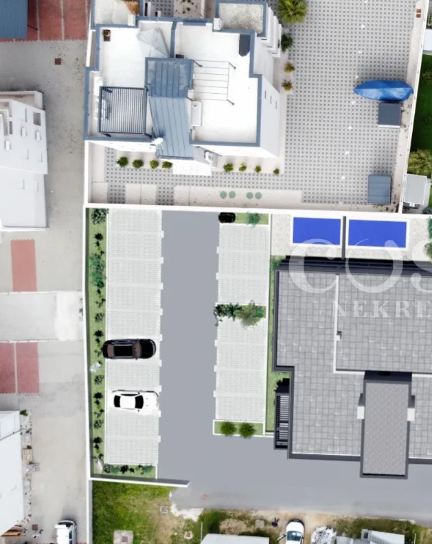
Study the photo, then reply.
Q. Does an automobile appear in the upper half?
No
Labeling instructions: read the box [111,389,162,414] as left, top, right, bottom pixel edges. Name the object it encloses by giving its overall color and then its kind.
white car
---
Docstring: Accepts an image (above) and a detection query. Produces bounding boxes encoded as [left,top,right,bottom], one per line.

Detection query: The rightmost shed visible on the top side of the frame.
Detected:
[404,176,427,205]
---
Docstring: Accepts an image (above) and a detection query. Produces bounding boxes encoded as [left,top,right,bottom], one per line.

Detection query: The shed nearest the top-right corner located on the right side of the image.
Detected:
[378,103,401,131]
